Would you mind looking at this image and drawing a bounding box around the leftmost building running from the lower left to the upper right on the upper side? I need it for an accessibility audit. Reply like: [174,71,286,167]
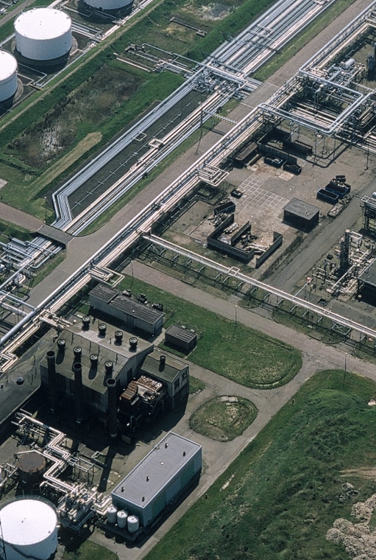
[234,143,260,166]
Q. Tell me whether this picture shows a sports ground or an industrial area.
industrial area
